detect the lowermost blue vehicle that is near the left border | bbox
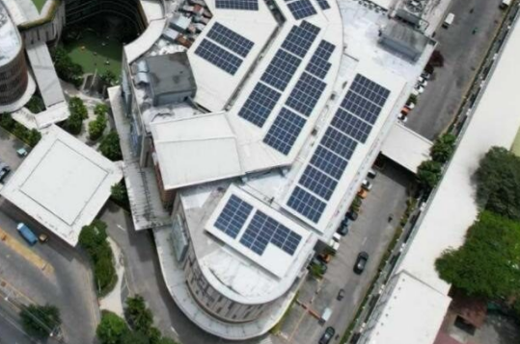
[16,221,38,248]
